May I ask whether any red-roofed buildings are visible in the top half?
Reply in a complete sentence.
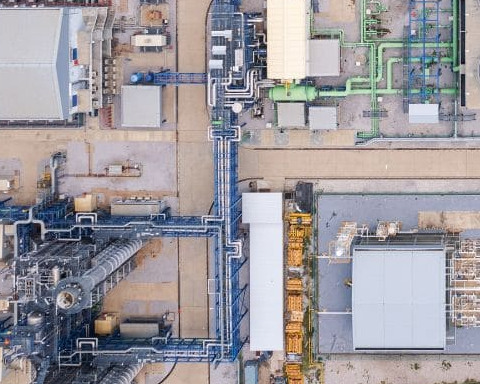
No, I can find no red-roofed building in the top half.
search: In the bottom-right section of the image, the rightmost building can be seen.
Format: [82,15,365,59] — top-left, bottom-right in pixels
[352,224,448,351]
